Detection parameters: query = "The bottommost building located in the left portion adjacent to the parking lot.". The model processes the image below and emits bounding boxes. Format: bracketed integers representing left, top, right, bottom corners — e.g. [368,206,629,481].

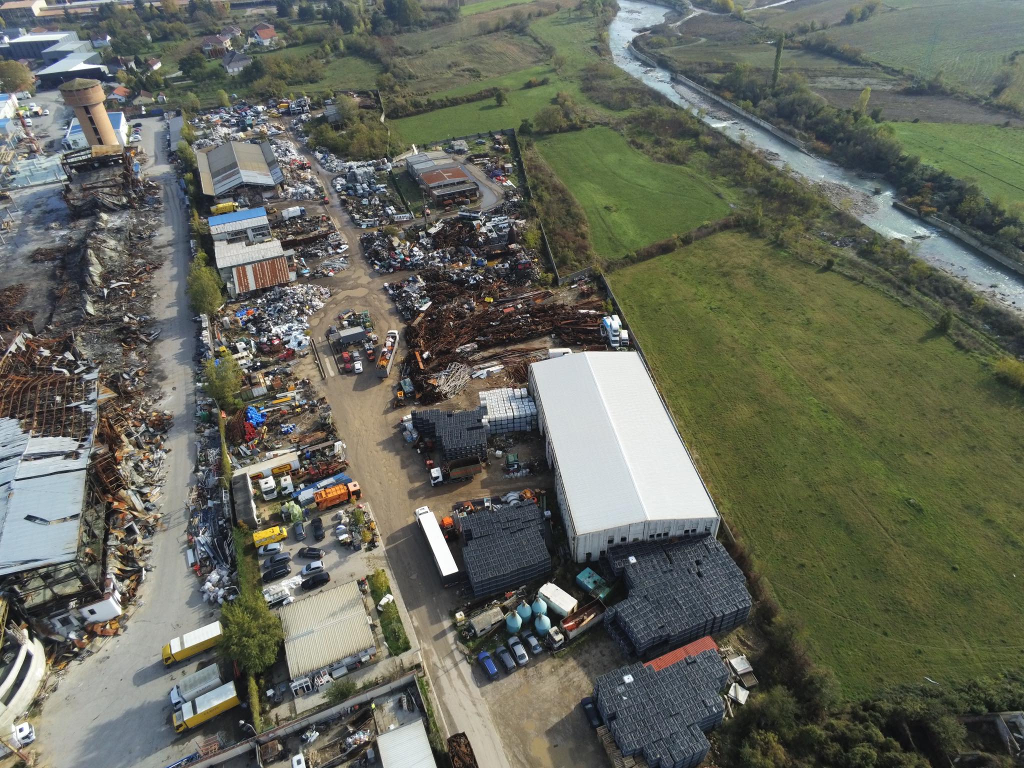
[277,579,386,689]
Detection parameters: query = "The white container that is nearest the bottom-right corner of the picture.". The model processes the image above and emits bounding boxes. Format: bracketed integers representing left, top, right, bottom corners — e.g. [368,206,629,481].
[541,583,580,620]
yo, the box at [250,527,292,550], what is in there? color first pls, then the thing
yellow vehicle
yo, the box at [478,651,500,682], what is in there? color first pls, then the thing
blue car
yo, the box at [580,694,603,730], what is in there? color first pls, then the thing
black car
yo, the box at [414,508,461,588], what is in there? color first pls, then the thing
white truck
